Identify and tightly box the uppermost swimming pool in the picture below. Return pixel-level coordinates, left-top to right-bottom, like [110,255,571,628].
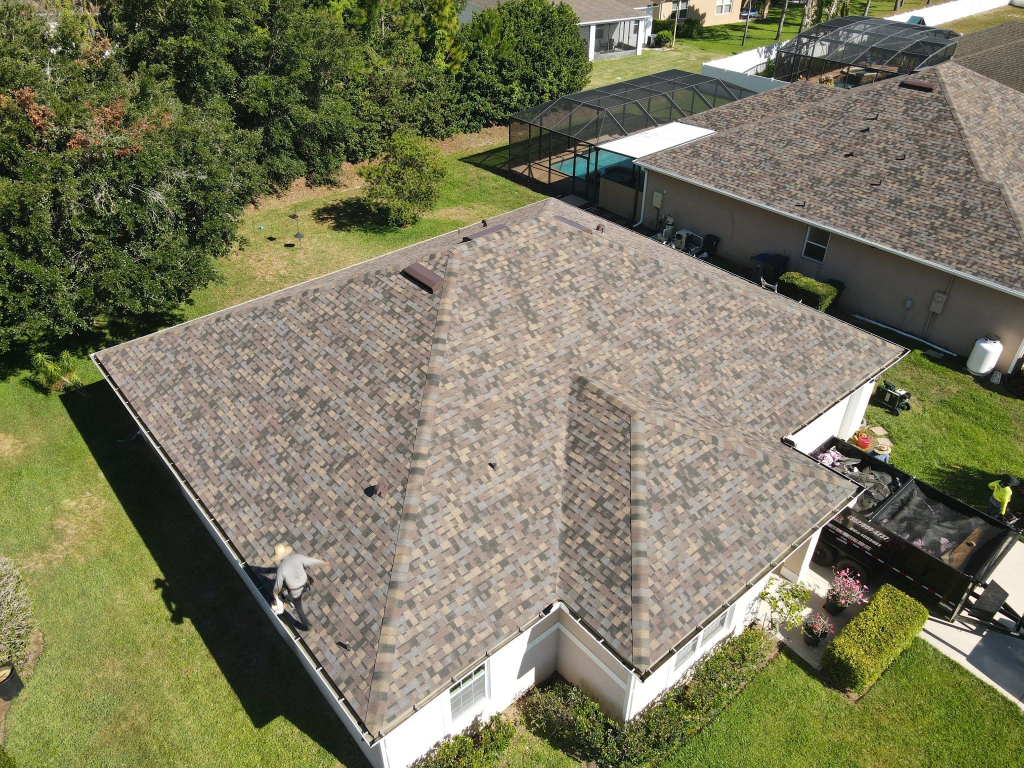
[784,65,900,89]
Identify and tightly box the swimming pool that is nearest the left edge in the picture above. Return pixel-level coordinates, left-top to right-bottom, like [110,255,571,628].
[512,142,644,219]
